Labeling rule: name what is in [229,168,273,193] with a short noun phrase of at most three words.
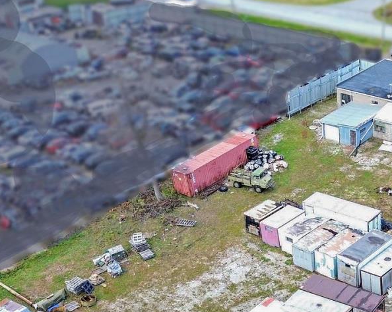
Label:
truck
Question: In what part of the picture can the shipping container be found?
center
